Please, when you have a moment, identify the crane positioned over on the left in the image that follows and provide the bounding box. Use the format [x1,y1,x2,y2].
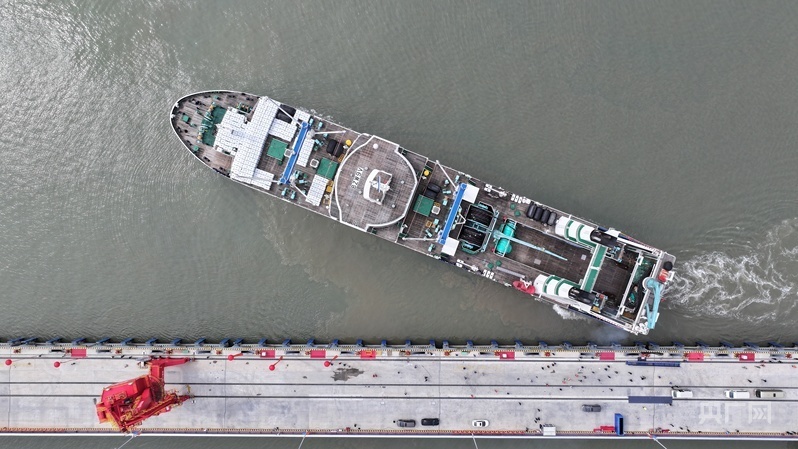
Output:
[93,353,197,433]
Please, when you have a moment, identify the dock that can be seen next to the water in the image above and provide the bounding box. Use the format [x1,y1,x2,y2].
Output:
[0,342,798,440]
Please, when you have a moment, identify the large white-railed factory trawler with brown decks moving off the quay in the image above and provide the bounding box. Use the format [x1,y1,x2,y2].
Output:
[170,87,677,338]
